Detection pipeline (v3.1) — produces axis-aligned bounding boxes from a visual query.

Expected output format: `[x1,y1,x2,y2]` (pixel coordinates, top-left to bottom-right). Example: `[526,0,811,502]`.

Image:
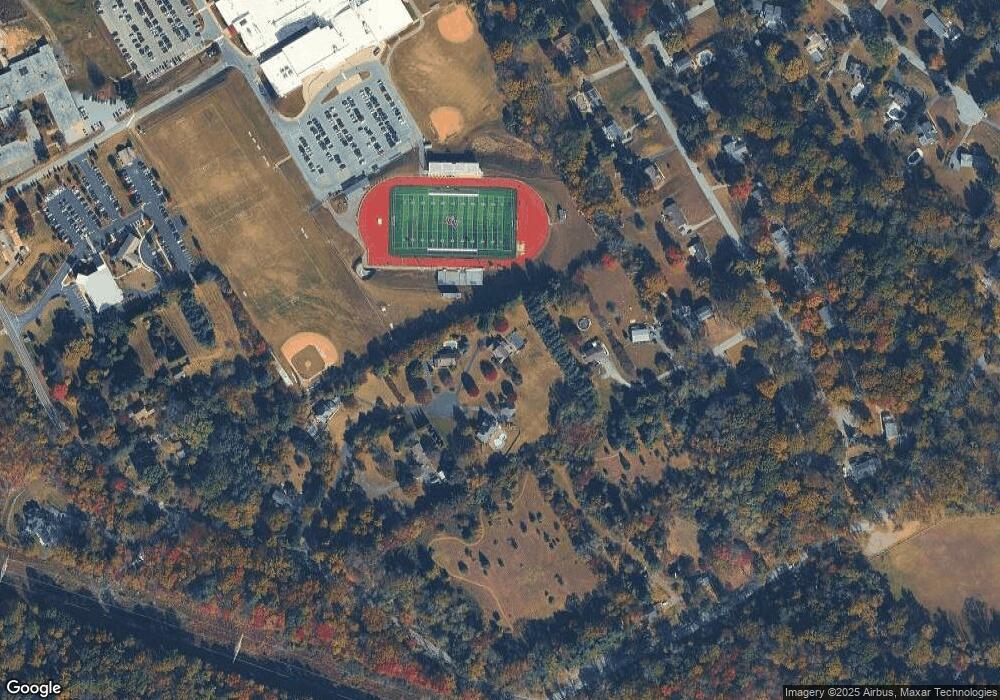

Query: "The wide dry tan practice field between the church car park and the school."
[134,72,396,391]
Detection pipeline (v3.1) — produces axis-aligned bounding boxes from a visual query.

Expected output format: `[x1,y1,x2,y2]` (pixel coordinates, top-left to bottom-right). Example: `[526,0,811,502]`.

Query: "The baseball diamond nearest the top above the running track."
[438,1,473,42]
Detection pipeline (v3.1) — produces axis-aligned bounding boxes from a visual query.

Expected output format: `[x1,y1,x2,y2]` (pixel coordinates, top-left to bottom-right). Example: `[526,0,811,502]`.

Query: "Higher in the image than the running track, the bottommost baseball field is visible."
[430,106,463,147]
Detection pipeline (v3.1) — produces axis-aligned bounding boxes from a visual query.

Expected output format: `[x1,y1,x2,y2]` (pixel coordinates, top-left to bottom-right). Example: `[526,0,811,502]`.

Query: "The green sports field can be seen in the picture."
[391,185,518,260]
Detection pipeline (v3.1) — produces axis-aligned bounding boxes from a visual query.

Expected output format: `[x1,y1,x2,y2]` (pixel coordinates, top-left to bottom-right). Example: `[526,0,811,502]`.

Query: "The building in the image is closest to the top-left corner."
[0,42,89,181]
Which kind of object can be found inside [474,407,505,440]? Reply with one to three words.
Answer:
house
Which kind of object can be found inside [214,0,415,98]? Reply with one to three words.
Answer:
building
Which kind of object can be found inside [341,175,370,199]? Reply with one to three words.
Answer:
building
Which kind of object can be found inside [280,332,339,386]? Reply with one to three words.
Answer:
baseball field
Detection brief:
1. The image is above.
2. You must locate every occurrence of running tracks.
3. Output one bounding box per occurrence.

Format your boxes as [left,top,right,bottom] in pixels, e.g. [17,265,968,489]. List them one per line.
[360,177,550,268]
